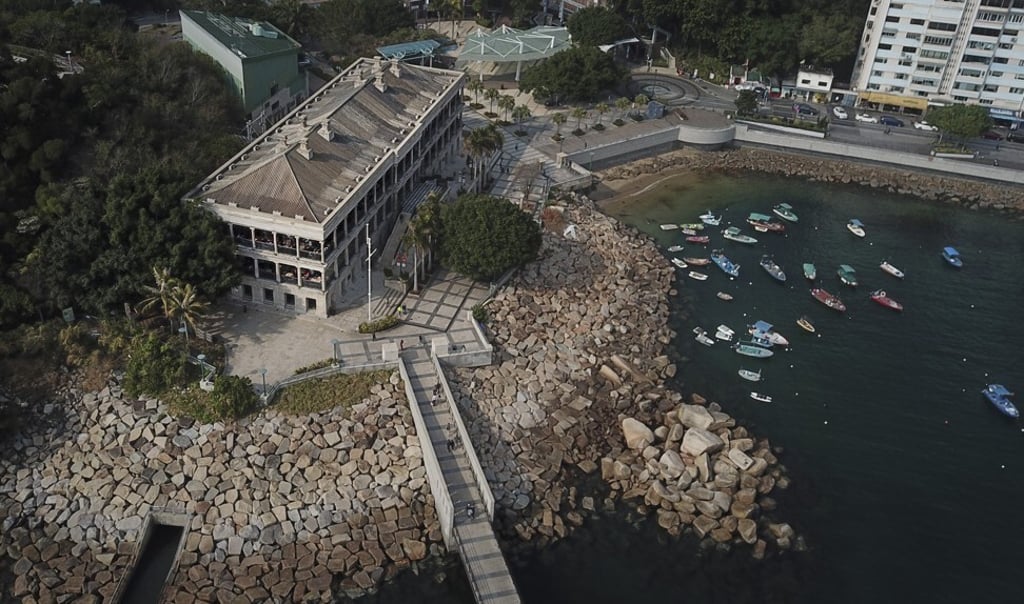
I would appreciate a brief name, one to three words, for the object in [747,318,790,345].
boat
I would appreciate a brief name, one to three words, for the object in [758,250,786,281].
boat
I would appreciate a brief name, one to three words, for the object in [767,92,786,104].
vehicle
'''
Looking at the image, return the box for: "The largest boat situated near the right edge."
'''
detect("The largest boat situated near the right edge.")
[979,384,1020,417]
